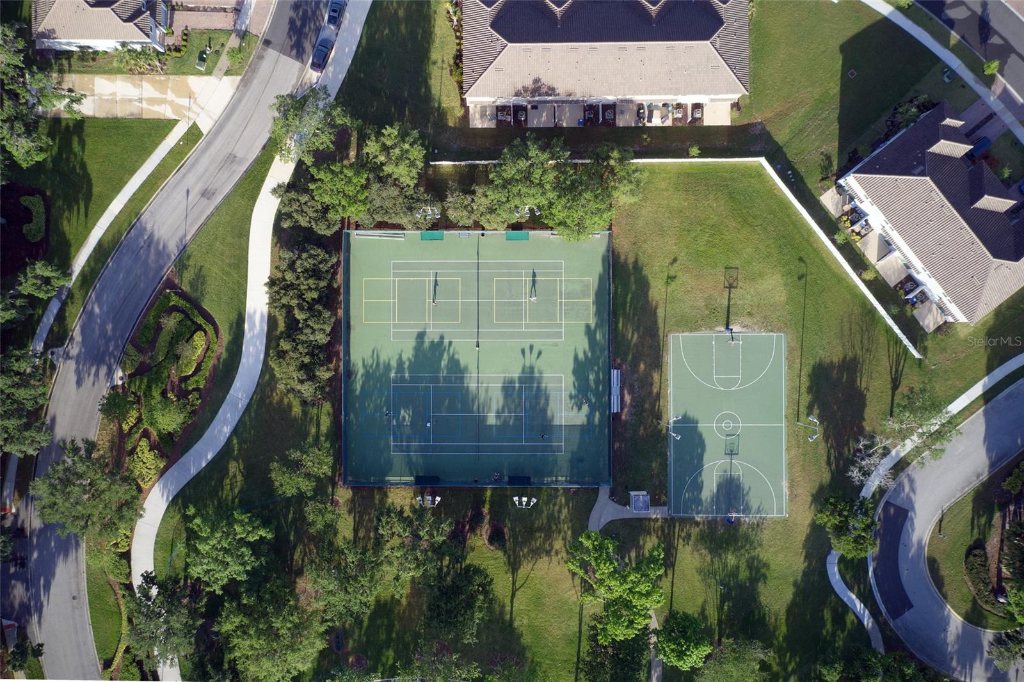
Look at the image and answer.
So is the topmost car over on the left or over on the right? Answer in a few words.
left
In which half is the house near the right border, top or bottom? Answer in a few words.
top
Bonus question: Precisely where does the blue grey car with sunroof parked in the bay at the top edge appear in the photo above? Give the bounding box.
[326,0,348,26]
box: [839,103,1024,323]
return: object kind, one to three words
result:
house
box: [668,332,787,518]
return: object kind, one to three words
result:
basketball court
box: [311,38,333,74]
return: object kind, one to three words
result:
car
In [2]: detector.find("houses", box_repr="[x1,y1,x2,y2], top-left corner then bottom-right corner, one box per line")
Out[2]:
[839,103,1024,323]
[36,0,172,51]
[463,0,749,106]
